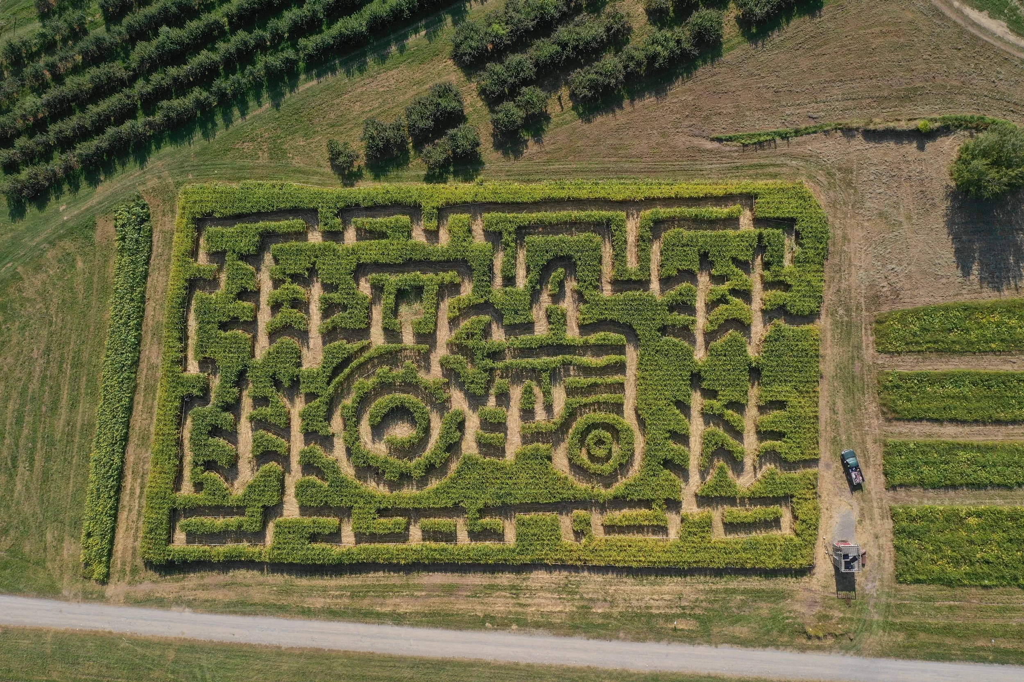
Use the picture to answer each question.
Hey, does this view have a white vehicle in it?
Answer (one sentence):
No, the photo shows no white vehicle.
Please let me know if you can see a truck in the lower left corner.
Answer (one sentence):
No, there's no truck to be seen in the lower left corner.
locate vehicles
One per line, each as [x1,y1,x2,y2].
[840,448,865,487]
